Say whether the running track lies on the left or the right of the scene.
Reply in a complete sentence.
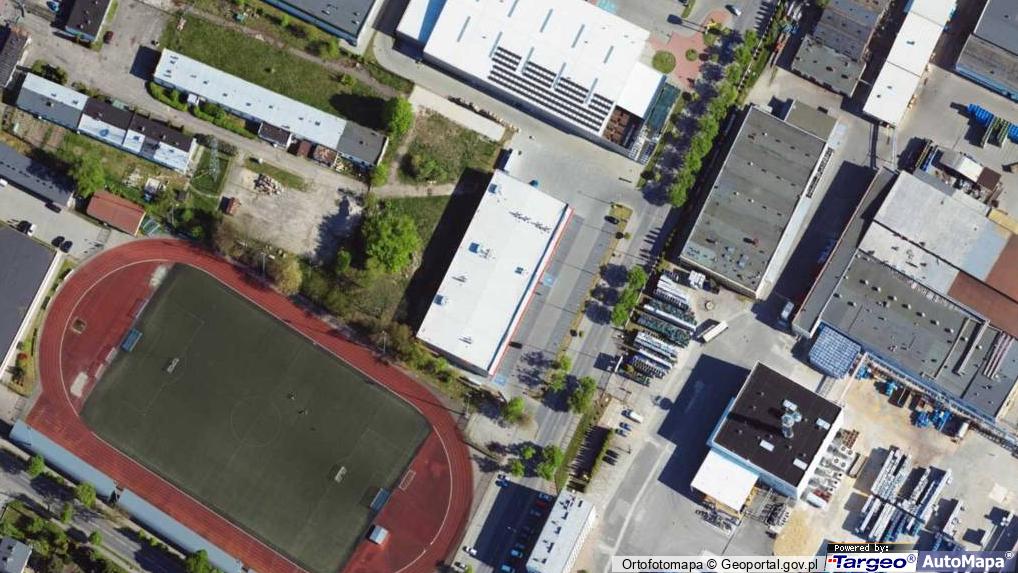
You can find the running track on the left side of the picture.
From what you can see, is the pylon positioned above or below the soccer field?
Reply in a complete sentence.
It's above the soccer field that the pylon shows up.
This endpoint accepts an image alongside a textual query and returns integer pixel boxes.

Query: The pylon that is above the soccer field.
[202,141,223,188]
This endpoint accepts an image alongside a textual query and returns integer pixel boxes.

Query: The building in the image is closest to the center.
[417,169,577,377]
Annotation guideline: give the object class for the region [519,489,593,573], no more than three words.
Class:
building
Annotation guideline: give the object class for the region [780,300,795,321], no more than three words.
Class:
vehicle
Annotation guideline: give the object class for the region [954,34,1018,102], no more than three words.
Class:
building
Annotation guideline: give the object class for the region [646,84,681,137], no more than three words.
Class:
house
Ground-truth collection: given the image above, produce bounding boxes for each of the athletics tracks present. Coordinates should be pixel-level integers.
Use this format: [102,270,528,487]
[26,237,472,573]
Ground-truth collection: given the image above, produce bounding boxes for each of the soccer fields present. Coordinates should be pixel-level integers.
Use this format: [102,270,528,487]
[83,263,431,573]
